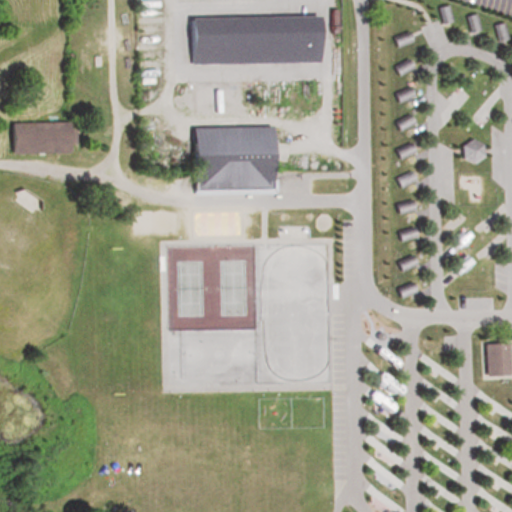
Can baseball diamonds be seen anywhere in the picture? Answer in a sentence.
No, there appears to be no baseball diamond in this shot.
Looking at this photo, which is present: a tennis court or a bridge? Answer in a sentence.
I can see a tennis court in this picture.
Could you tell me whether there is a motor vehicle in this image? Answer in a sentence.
Yes, there is a motor vehicle in the image.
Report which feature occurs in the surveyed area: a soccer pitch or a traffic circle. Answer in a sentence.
The one in the frame is a soccer pitch.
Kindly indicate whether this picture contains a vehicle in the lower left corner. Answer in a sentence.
No, no vehicle appears in the lower left corner.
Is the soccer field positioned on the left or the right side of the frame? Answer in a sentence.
It is on the left.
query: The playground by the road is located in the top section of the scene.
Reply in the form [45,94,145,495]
[460,176,482,203]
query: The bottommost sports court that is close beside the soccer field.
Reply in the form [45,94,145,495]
[170,331,256,386]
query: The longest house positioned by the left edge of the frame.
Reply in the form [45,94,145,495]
[13,123,78,158]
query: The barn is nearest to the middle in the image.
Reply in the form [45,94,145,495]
[196,126,277,190]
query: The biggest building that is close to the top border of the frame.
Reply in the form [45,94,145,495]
[194,17,326,64]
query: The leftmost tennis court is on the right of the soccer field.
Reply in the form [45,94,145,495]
[169,248,212,329]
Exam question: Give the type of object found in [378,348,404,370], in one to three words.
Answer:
vehicle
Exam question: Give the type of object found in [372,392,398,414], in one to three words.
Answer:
vehicle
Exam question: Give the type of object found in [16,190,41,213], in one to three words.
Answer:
shed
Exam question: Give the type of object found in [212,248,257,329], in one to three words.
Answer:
tennis court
